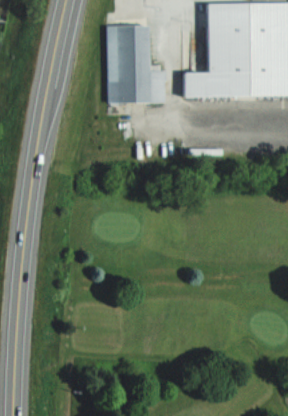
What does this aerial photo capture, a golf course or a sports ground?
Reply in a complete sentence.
What you see here is a golf course.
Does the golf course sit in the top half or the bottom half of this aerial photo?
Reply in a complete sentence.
You can find the golf course in the bottom half.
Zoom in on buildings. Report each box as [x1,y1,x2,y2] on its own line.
[184,0,288,98]
[107,26,164,102]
